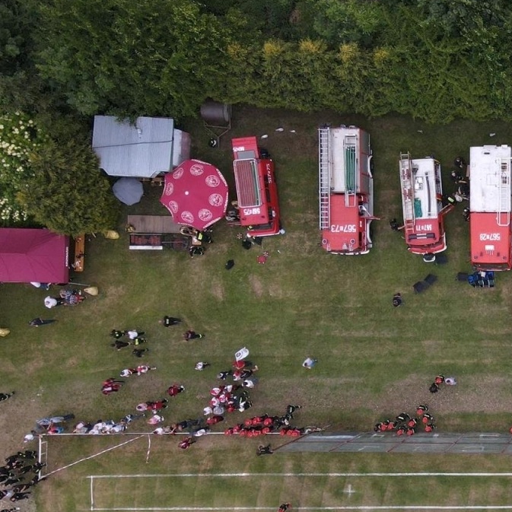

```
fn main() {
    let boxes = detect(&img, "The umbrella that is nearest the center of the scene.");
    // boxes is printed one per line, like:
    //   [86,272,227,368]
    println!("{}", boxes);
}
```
[162,159,233,229]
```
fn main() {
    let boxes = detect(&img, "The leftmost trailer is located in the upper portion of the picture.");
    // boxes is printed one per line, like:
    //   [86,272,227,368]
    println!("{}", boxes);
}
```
[197,101,233,150]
